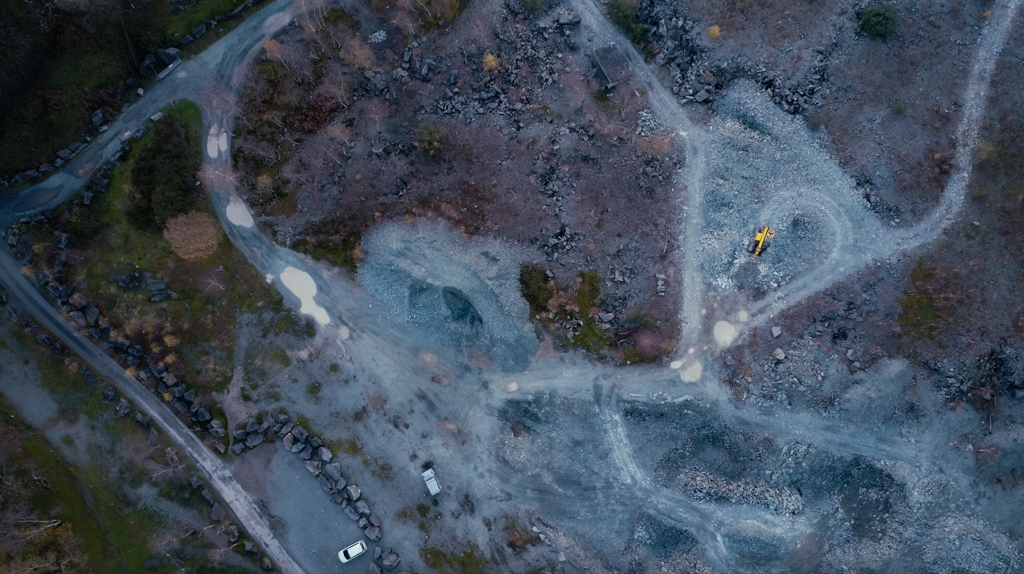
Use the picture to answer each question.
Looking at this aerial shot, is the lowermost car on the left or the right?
left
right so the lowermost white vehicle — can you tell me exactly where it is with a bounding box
[338,540,368,563]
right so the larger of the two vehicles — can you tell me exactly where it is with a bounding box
[744,225,776,265]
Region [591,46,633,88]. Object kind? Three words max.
shed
